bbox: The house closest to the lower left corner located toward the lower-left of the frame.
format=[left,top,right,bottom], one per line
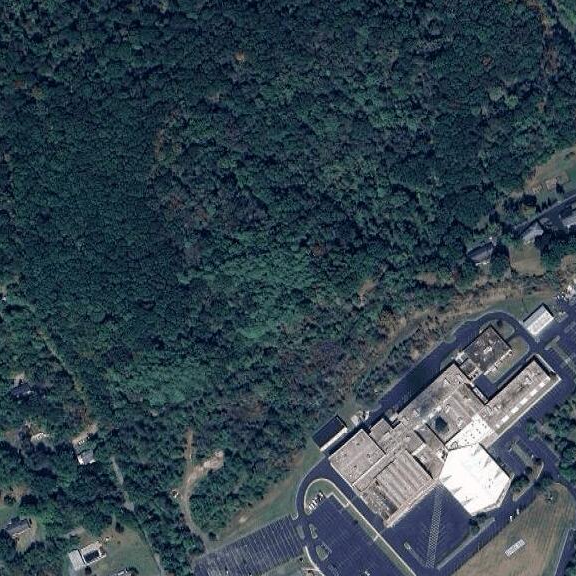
[6,519,32,543]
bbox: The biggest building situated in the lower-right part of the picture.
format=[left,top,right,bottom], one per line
[330,326,561,529]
